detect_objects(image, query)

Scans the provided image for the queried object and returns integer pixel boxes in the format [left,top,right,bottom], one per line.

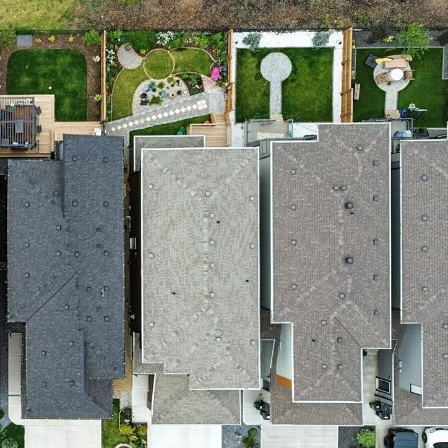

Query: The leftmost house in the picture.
[6,133,127,420]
